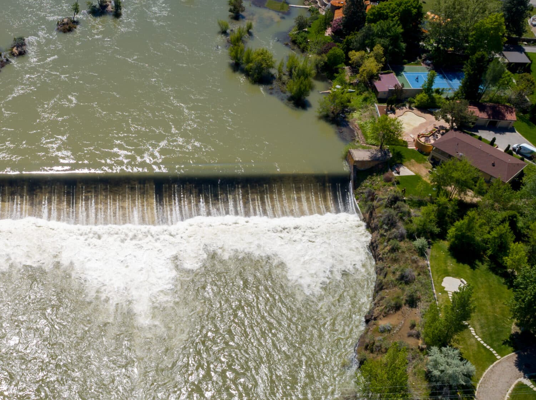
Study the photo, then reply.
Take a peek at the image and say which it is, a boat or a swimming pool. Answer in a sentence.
The image shows a swimming pool.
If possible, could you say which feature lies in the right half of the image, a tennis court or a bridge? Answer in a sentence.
It is a tennis court that can be seen in the right half of the image.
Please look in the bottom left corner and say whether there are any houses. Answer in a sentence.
No, no house appears in the bottom left corner.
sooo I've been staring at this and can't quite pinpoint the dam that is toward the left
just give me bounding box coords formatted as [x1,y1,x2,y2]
[0,178,358,226]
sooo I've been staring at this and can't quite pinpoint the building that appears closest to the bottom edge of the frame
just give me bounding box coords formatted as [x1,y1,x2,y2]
[426,129,525,186]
